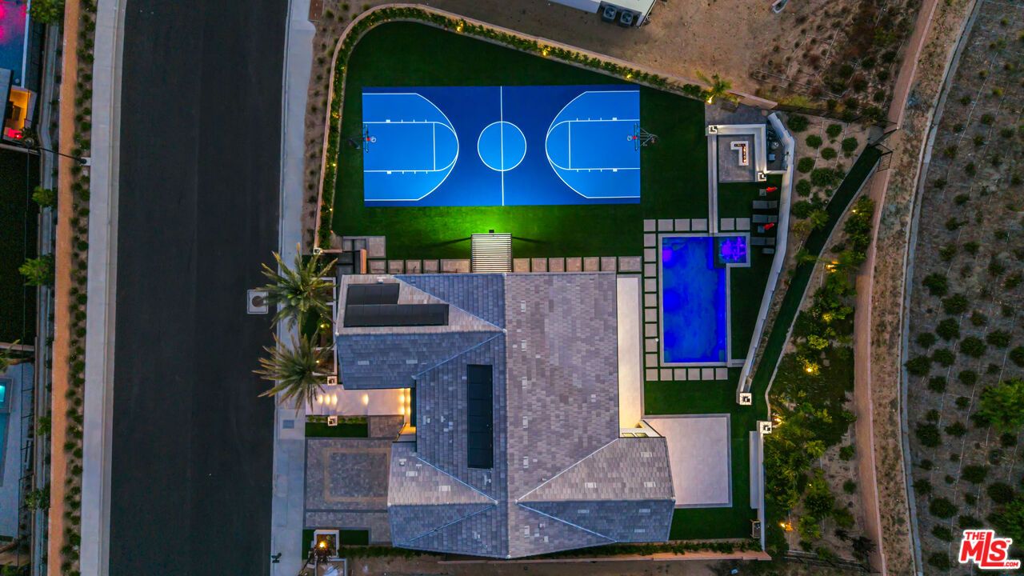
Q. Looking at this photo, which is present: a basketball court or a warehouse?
basketball court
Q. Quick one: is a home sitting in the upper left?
Yes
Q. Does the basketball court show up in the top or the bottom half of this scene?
top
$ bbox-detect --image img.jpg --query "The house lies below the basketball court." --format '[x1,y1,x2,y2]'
[335,271,677,560]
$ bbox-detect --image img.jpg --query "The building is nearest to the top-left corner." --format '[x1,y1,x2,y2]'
[0,69,36,146]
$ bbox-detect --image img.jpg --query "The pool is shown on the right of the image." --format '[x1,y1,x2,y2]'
[658,233,751,367]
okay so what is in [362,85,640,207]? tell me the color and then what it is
blue basketball court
